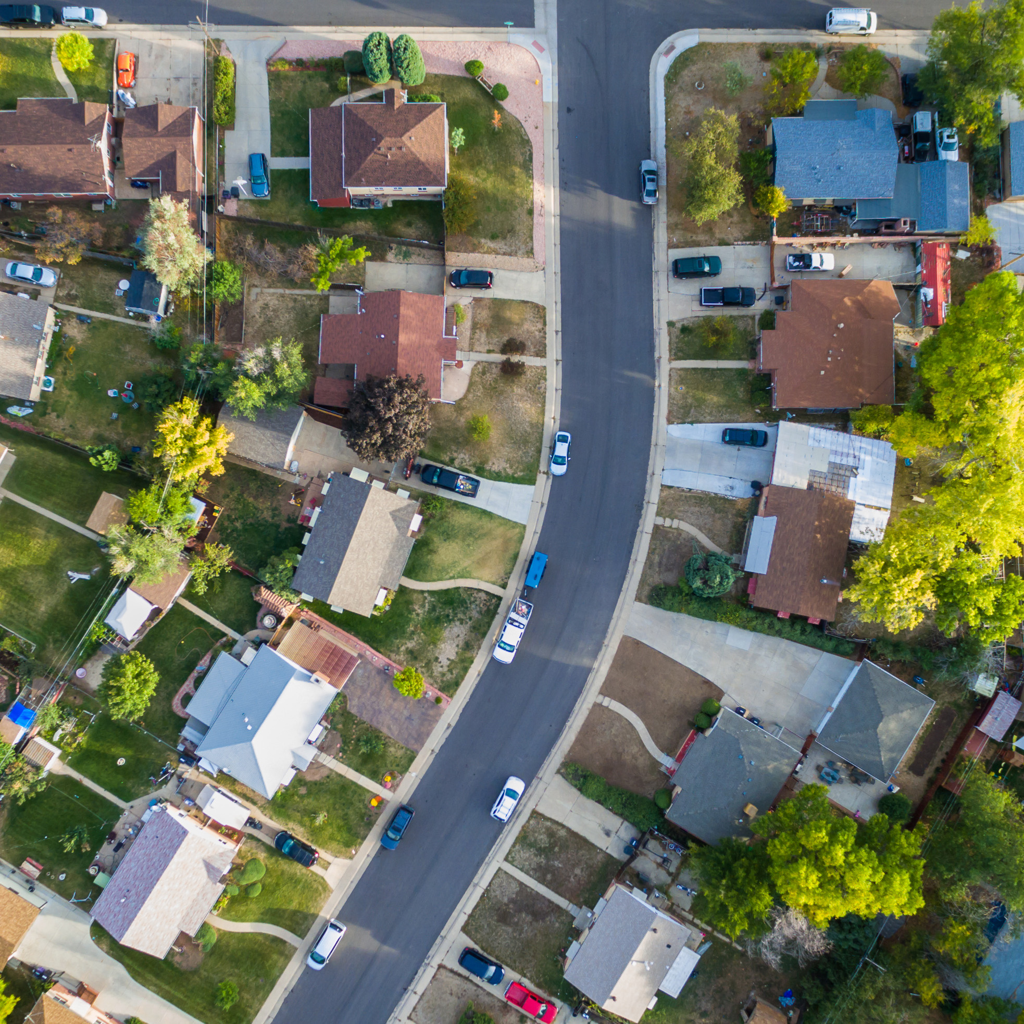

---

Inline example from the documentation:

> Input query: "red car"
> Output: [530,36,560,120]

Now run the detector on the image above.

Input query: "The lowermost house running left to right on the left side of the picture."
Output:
[28,980,124,1024]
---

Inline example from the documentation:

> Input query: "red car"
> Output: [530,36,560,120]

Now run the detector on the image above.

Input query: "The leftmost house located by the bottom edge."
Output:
[0,868,48,974]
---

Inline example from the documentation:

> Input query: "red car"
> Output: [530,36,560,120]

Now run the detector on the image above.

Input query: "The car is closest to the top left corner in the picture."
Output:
[0,2,56,28]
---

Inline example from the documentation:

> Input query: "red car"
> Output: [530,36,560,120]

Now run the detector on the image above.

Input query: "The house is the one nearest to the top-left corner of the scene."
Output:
[0,97,113,197]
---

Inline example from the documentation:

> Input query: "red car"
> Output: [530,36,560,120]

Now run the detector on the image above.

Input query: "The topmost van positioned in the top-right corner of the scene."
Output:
[825,6,877,36]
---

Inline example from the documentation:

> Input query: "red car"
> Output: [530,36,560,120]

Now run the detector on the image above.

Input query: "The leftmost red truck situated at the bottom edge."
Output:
[503,981,557,1024]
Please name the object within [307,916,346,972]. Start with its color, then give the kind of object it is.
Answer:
white car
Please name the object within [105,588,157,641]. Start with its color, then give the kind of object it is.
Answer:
white tent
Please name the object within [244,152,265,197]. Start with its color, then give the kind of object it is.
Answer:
blue car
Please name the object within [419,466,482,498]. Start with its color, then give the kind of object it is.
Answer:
black truck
